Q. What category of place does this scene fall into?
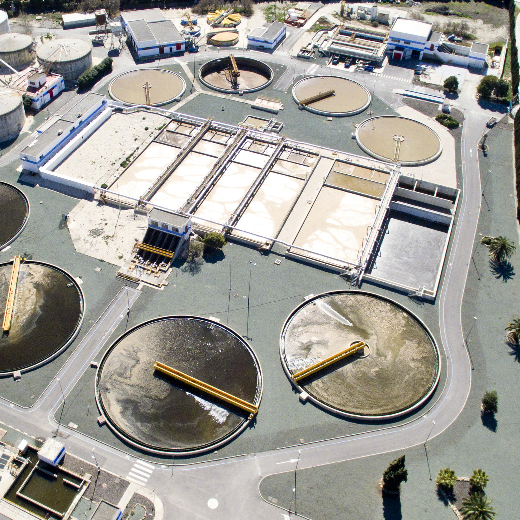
industrial area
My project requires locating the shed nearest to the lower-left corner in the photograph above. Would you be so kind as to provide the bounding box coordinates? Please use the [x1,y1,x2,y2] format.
[38,437,68,469]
